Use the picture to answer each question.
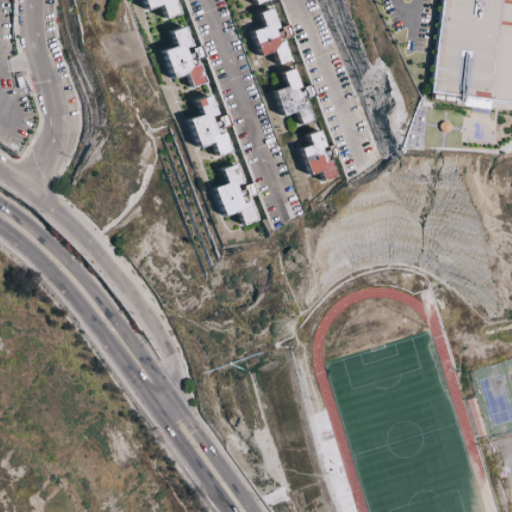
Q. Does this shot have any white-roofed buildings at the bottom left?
No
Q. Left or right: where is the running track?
right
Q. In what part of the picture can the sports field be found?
bottom right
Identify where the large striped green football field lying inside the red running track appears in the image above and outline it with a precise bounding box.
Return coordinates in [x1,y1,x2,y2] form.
[327,332,483,512]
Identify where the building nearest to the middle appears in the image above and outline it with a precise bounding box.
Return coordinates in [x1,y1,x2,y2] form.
[211,164,260,226]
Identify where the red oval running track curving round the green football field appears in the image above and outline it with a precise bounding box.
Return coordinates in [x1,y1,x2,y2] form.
[314,276,496,512]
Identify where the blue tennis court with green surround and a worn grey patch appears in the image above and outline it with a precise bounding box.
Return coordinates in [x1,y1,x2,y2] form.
[472,360,512,436]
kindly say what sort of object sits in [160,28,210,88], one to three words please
building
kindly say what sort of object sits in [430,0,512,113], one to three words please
building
